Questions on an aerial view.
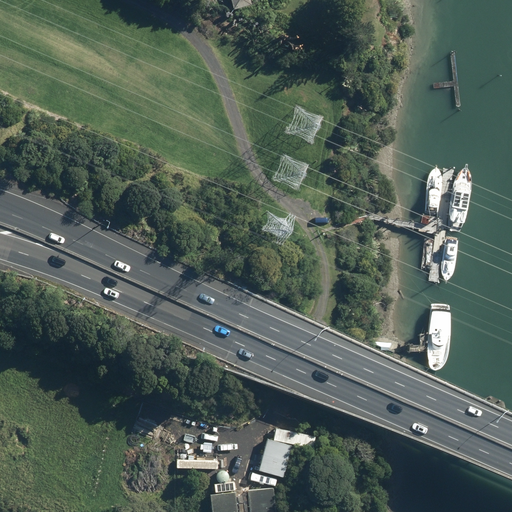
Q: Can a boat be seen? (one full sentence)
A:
Yes, there is a boat in the image.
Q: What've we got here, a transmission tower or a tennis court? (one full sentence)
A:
There is a transmission tower in the scene.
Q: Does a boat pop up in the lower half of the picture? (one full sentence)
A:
Yes, there is a boat in the lower half of the picture.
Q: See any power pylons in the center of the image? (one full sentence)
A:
Yes, a power pylon shows up in the center of the image.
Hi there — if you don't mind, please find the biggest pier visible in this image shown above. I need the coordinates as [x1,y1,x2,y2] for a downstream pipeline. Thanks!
[420,168,456,284]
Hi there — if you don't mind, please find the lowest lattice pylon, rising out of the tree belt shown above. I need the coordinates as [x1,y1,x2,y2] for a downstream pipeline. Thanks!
[260,208,300,249]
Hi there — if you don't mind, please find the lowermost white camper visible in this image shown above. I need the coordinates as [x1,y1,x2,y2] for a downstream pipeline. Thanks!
[250,473,280,486]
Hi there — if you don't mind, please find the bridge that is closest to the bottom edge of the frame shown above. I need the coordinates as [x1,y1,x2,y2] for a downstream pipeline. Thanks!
[222,296,512,488]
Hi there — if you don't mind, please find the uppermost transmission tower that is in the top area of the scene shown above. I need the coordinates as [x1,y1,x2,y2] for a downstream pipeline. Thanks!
[285,104,326,147]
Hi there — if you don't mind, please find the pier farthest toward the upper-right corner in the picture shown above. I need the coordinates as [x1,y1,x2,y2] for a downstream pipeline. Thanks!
[433,49,462,110]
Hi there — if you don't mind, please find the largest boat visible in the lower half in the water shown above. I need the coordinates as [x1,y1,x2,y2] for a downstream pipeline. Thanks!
[426,300,452,378]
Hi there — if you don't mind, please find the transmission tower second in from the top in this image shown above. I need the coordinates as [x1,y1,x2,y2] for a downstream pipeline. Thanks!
[272,152,312,192]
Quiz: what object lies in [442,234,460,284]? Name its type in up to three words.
boat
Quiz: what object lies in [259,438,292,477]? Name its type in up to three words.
shed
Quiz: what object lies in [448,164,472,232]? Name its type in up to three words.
boat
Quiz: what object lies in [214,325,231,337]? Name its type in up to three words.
vehicle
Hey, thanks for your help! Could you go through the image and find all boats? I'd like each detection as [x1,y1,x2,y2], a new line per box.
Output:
[422,238,436,270]
[442,234,460,284]
[426,300,452,378]
[448,164,472,232]
[426,166,444,218]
